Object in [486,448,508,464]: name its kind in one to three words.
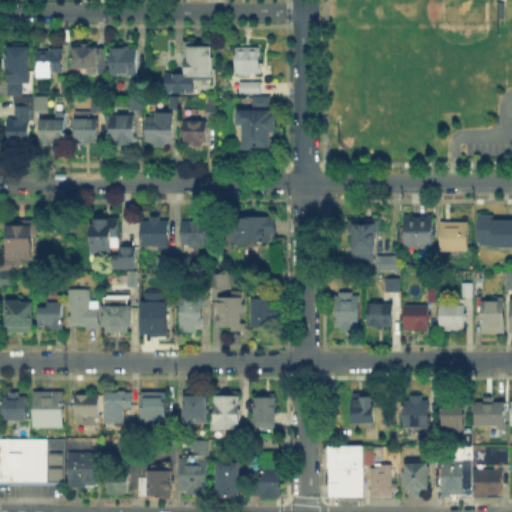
building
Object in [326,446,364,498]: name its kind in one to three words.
building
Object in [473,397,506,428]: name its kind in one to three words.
house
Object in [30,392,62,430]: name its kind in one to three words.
house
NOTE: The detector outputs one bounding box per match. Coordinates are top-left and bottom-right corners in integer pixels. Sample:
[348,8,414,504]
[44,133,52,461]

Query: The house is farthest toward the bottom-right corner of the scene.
[474,468,504,498]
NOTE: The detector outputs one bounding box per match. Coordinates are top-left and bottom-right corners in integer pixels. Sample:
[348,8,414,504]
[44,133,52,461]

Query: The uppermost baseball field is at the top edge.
[427,0,503,52]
